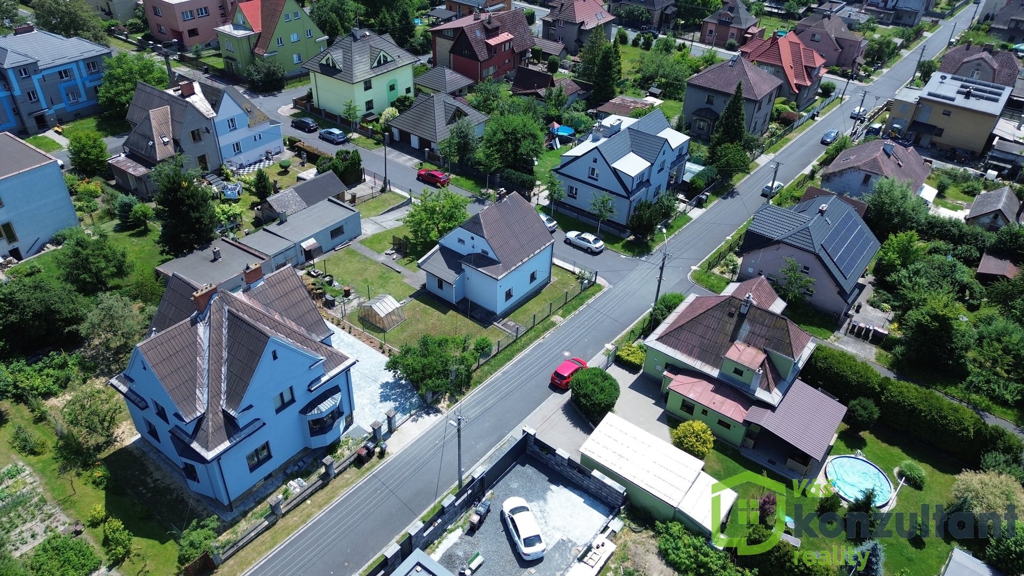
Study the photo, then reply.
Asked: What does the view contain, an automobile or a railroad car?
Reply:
automobile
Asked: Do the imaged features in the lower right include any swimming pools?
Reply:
Yes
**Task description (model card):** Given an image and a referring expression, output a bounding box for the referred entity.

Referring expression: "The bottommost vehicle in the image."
[500,500,550,563]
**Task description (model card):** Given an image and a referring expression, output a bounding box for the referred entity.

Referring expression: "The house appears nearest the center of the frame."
[412,181,558,316]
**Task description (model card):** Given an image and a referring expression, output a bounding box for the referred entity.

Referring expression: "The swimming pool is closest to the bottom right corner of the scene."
[822,452,893,514]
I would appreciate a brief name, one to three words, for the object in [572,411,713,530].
building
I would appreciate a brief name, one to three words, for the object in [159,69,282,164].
house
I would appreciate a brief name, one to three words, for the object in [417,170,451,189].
car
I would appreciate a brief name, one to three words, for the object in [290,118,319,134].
car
